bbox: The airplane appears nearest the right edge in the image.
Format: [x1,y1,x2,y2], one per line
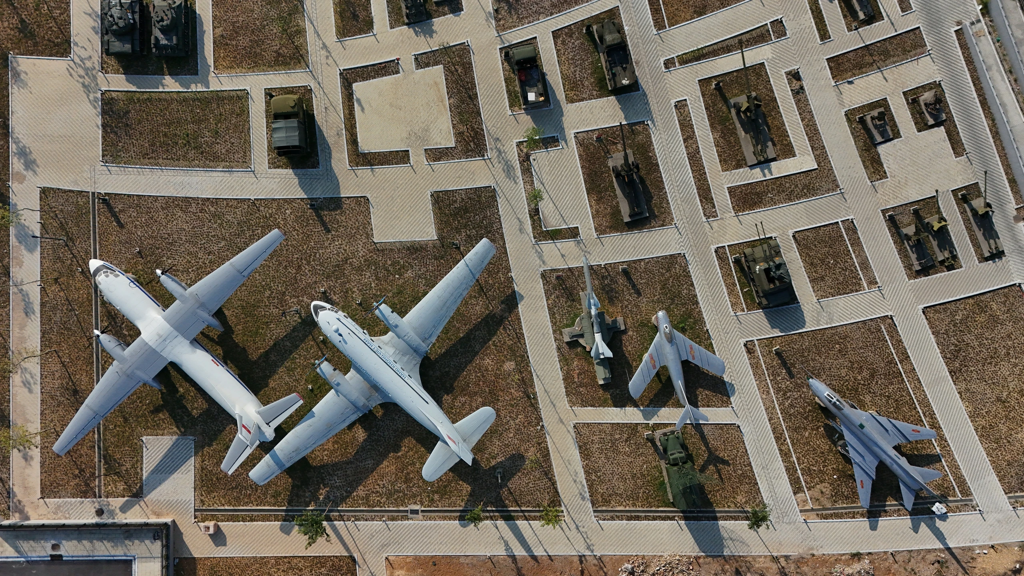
[802,366,952,518]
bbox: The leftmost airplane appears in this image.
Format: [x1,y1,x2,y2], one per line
[50,228,303,483]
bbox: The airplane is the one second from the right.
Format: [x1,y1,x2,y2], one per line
[621,310,729,430]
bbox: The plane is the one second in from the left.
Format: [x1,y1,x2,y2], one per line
[251,241,500,489]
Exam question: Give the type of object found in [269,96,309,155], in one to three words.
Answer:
work vehicle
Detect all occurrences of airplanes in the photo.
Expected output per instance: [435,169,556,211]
[802,366,952,518]
[50,228,303,483]
[251,241,500,489]
[621,310,729,430]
